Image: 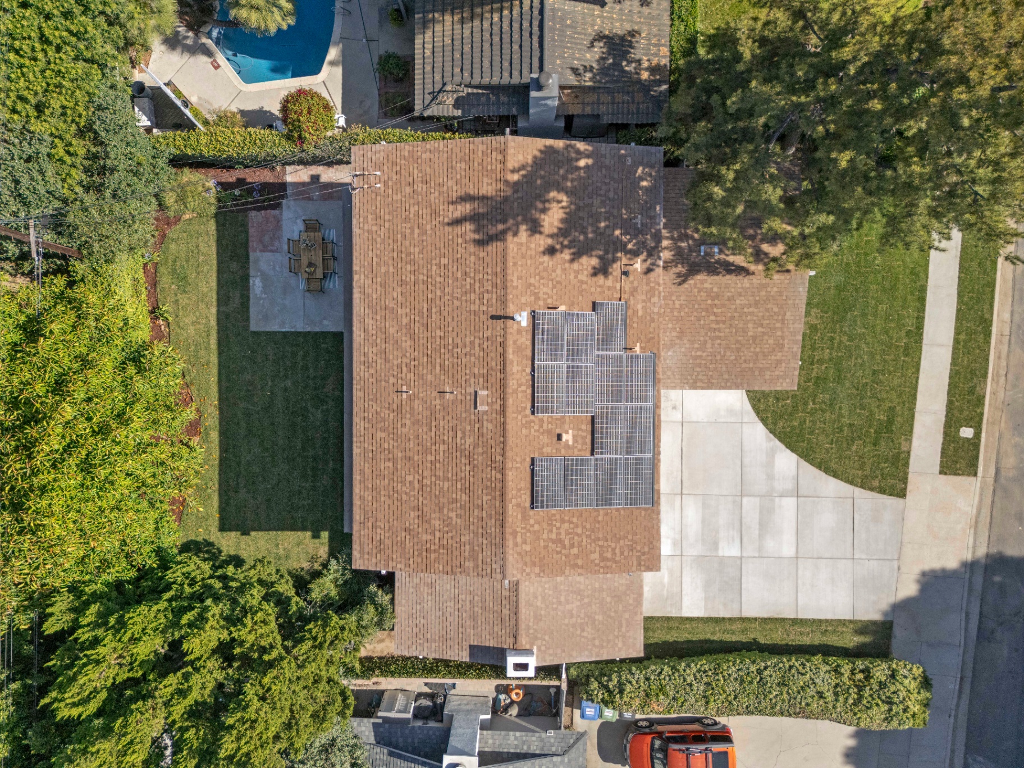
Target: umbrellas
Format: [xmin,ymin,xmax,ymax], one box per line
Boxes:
[423,683,456,697]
